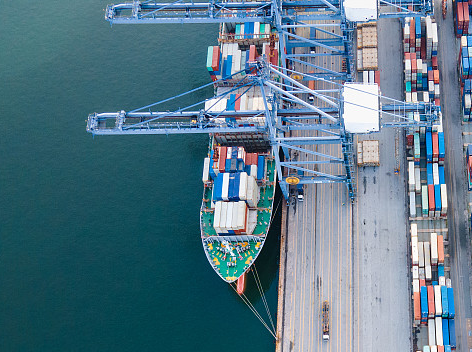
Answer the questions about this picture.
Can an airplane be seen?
No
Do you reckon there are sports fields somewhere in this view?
No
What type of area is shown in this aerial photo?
port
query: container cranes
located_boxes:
[84,62,431,204]
[105,0,425,101]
